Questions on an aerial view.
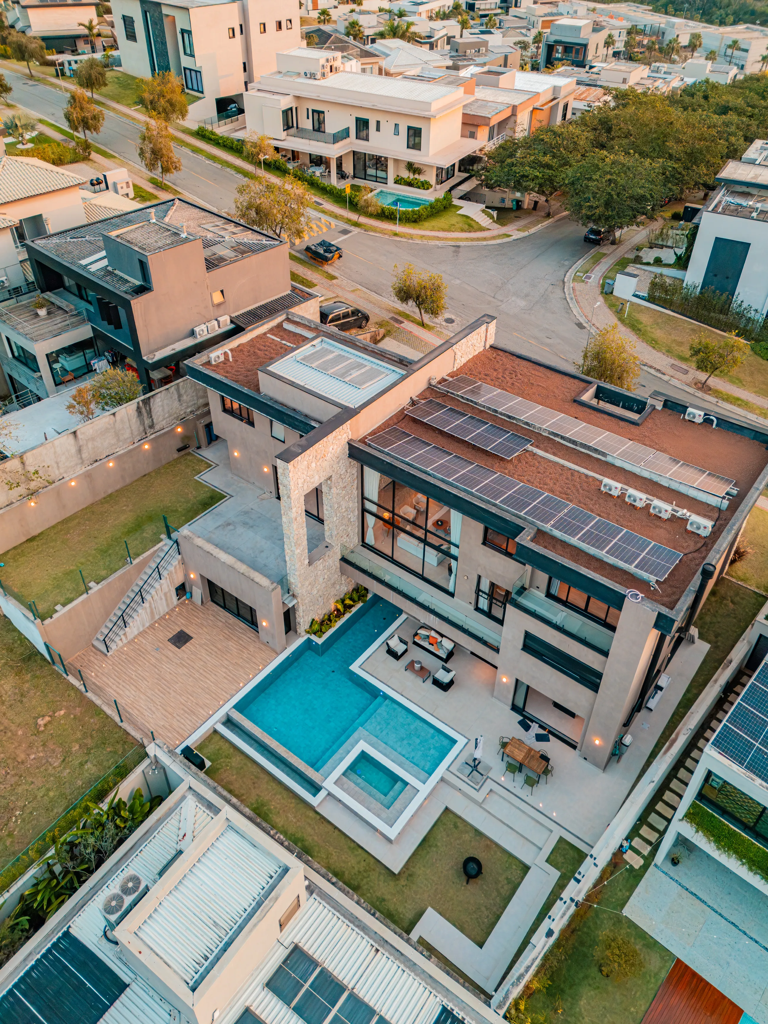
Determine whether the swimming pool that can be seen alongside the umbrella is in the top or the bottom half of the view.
bottom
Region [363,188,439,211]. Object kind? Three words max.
swimming pool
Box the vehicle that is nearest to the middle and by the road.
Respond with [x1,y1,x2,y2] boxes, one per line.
[319,295,378,328]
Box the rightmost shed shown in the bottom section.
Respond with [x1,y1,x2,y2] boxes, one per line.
[728,615,768,688]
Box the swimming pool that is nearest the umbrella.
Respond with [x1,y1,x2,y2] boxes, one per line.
[176,589,472,848]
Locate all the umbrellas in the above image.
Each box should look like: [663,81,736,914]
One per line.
[459,736,488,784]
